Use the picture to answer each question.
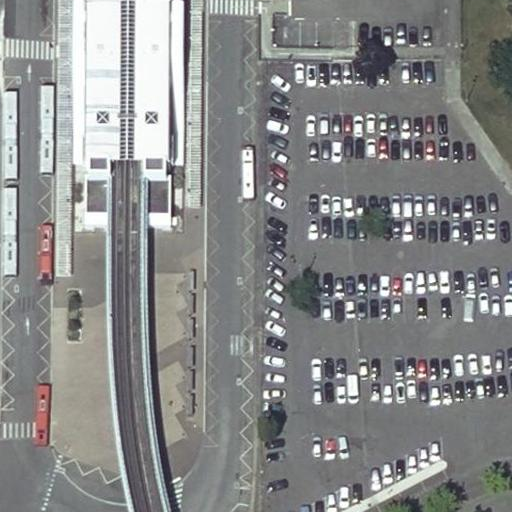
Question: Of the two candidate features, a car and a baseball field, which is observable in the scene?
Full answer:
The one in the frame is a car.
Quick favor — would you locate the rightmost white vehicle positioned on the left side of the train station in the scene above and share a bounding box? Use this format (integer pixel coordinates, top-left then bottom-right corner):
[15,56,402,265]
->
[40,84,56,177]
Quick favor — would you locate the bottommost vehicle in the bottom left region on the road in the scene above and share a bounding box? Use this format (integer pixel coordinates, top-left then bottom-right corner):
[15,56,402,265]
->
[33,384,52,448]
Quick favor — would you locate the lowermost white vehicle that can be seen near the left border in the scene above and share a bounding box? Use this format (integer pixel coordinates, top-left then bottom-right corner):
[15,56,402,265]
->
[4,187,20,278]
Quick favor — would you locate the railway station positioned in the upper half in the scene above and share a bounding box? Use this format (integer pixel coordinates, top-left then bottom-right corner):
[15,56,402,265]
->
[74,0,184,231]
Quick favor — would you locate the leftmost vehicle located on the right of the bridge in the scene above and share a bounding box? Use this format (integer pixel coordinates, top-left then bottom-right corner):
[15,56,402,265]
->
[242,148,256,202]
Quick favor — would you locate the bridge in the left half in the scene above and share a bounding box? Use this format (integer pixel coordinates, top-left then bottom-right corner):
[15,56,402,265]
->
[107,160,172,512]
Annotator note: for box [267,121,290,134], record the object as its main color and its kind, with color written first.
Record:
white vehicle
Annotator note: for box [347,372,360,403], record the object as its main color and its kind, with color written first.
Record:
white vehicle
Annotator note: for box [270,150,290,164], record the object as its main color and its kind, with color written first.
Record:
white car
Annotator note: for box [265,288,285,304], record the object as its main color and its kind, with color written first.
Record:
white car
